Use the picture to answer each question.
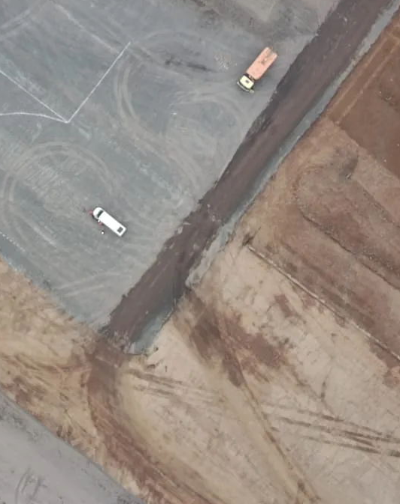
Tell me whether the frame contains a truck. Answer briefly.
Yes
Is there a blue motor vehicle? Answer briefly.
No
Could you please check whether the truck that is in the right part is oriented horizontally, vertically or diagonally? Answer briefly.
diagonally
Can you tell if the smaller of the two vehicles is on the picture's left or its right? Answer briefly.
left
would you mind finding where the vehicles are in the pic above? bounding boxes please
[236,46,277,91]
[93,209,127,237]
